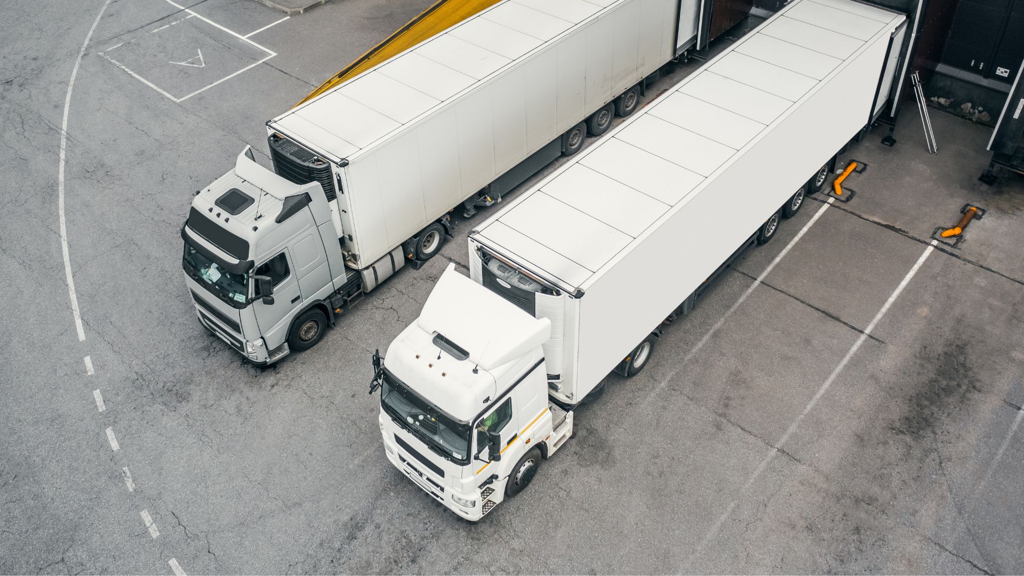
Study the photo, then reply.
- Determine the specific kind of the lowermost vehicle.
truck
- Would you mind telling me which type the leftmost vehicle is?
truck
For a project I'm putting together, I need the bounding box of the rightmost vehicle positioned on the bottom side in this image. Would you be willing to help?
[360,264,657,519]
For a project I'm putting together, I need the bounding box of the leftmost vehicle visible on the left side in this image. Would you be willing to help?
[177,136,457,369]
